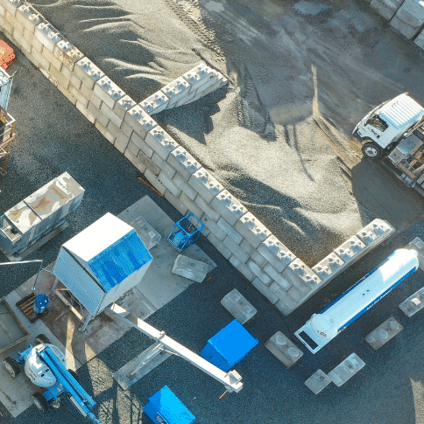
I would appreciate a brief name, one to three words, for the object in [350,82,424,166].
truck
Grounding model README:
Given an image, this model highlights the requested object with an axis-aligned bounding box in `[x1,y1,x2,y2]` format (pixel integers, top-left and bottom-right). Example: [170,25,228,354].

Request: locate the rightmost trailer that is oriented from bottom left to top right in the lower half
[292,246,423,358]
